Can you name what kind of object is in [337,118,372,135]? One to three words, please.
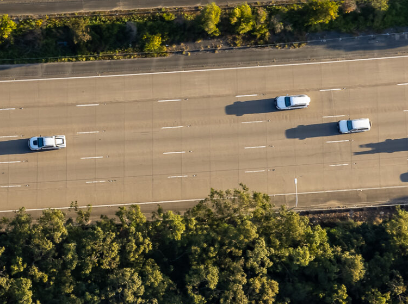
car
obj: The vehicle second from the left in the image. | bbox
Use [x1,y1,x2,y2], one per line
[273,95,310,110]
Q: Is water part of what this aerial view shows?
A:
No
